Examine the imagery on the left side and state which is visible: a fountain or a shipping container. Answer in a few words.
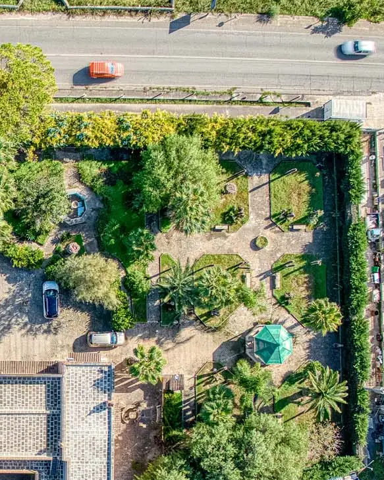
fountain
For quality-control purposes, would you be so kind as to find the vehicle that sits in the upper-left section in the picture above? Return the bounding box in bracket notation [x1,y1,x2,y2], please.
[86,60,122,82]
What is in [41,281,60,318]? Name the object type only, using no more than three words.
car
